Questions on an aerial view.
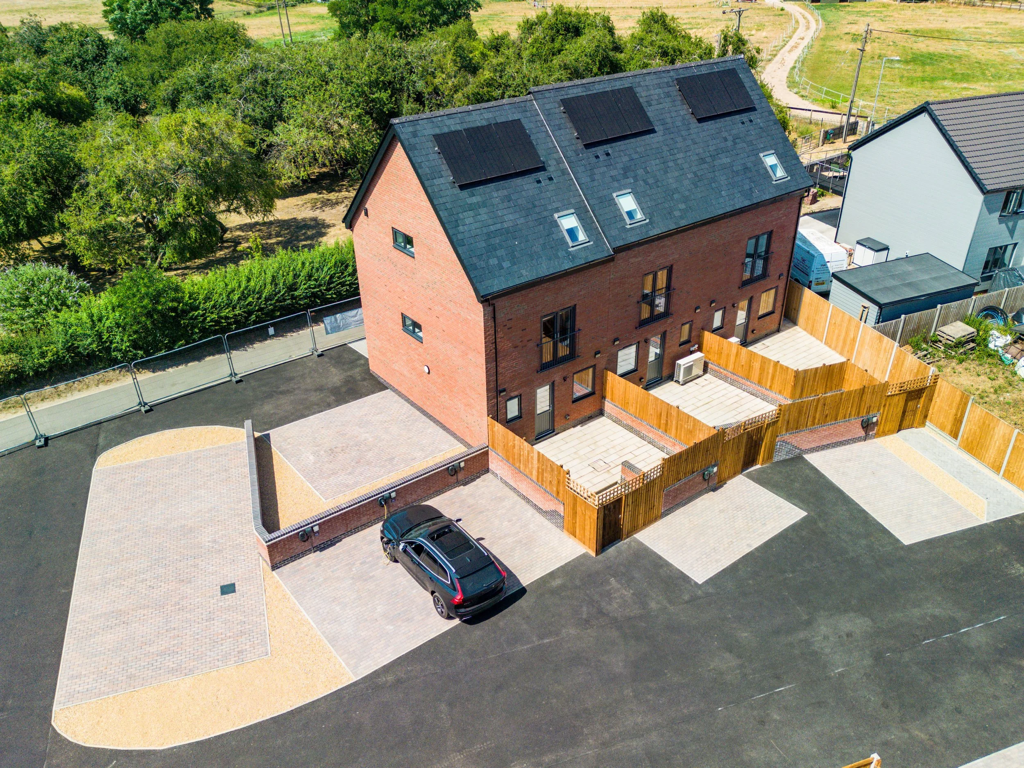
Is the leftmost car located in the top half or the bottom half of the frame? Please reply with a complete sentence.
It is in the bottom half that the leftmost car appears.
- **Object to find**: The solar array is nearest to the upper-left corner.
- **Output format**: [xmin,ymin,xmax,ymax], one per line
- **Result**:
[435,123,544,188]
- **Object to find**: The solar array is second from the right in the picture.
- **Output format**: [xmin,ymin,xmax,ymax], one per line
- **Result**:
[564,94,658,152]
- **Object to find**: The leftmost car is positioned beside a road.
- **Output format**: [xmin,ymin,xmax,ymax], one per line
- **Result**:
[376,497,513,623]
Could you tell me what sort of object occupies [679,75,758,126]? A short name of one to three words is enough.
solar array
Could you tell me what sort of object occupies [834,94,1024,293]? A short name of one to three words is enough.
house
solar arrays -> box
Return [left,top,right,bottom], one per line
[435,123,544,188]
[564,94,658,152]
[679,75,758,126]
